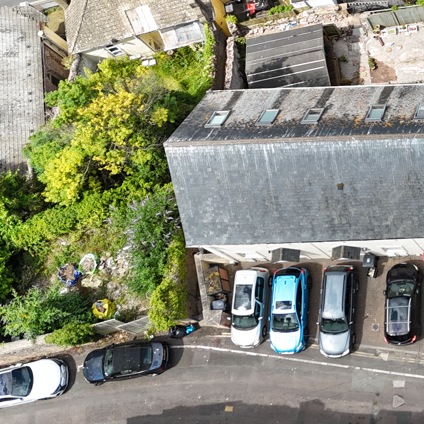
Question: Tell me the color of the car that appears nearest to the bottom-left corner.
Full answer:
The car that appears nearest to the bottom-left corner is white.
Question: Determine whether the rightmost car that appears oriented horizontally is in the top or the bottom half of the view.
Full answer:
The rightmost car that appears oriented horizontally sits in the bottom half of the picture.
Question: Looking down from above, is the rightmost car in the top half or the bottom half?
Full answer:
The rightmost car sits in the bottom half of the picture.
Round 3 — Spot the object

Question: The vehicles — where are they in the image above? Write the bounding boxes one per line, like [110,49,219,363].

[313,267,360,358]
[380,267,423,345]
[265,268,312,354]
[85,339,172,388]
[0,358,71,408]
[225,268,272,347]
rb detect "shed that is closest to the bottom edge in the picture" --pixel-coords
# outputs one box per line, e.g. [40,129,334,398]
[204,267,233,295]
